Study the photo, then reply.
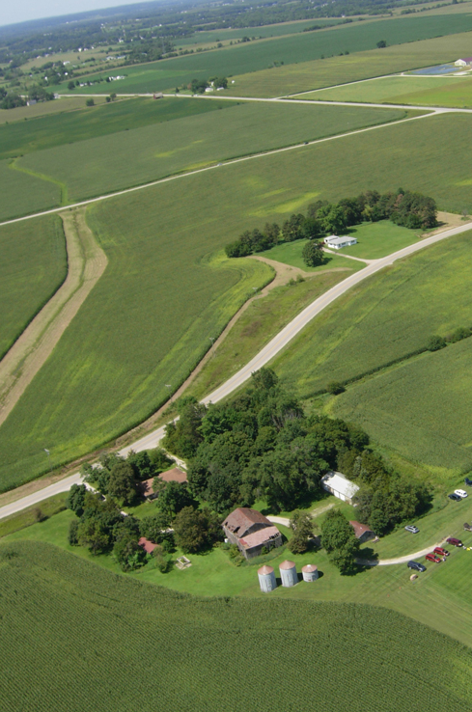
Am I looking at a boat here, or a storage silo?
storage silo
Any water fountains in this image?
No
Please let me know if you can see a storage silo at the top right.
No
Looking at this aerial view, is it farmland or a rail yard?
farmland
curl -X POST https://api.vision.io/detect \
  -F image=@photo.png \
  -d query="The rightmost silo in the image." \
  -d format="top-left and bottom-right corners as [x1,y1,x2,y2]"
[300,563,320,584]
